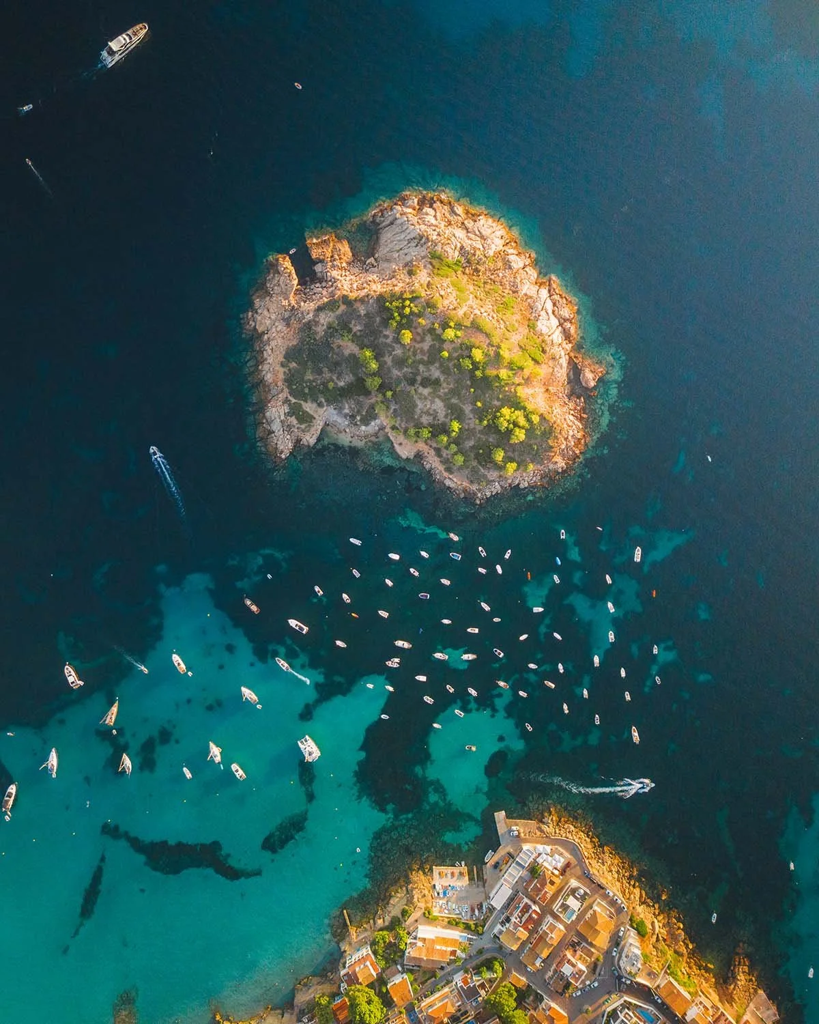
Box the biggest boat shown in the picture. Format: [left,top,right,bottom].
[98,21,145,69]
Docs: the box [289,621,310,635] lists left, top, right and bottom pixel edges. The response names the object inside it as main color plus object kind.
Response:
white boat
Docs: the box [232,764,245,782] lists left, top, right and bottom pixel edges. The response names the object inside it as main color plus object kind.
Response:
white boat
